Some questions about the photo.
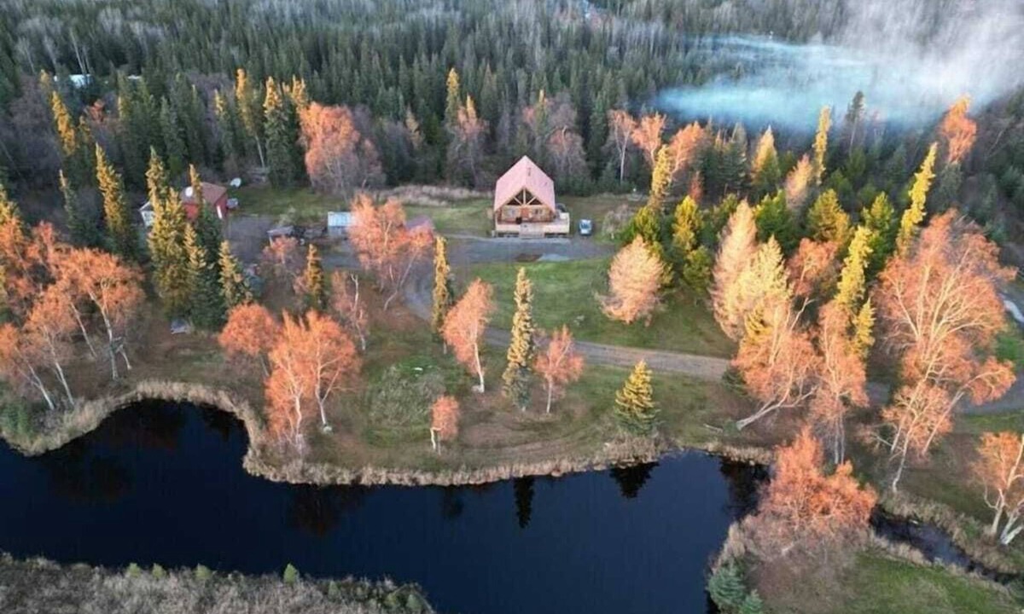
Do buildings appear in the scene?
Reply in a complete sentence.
Yes, a building is visible in the scene.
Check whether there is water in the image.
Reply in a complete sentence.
Yes, water shows up in the scene.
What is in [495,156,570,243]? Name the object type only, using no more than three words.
building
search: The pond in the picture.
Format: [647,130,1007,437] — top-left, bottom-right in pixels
[0,403,1024,614]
